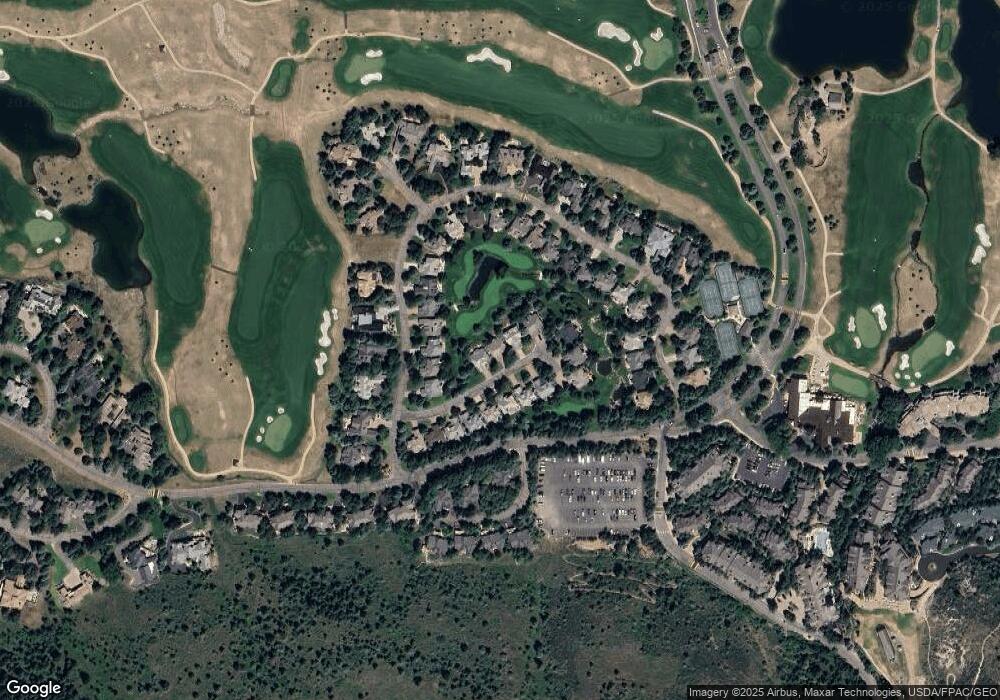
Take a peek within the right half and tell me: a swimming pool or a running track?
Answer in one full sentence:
You can see a swimming pool within the right half.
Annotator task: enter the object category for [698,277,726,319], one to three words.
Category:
tennis court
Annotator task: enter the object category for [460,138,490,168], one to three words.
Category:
house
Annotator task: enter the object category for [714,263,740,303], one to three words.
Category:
tennis court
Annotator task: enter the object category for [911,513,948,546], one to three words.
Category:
building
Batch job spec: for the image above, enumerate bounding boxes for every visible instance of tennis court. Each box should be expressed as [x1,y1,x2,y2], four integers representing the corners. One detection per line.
[714,320,740,361]
[698,277,726,319]
[714,263,740,303]
[737,276,765,318]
